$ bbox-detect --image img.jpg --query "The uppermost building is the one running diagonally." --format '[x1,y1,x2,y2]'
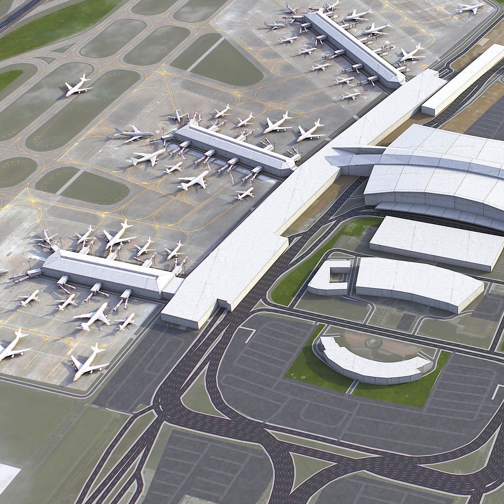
[421,43,504,116]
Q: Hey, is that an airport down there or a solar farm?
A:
airport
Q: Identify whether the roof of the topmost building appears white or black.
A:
white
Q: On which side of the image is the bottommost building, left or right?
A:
right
